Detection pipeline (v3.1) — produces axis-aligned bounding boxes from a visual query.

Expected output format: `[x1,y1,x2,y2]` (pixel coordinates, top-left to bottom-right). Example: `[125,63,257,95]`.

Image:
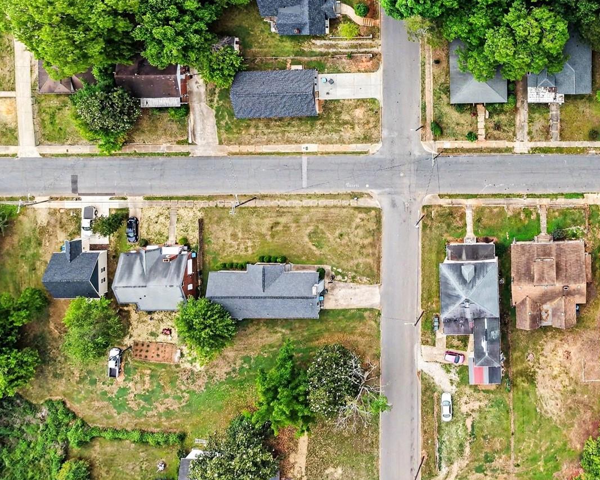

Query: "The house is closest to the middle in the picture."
[202,261,323,319]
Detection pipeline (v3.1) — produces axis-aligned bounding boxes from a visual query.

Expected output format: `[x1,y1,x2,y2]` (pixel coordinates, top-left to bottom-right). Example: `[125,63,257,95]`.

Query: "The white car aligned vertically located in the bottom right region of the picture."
[440,392,453,421]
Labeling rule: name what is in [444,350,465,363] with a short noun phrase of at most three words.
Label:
vehicle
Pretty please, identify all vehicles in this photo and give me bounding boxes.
[440,392,453,421]
[126,216,140,242]
[444,350,465,363]
[80,206,96,238]
[109,347,124,377]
